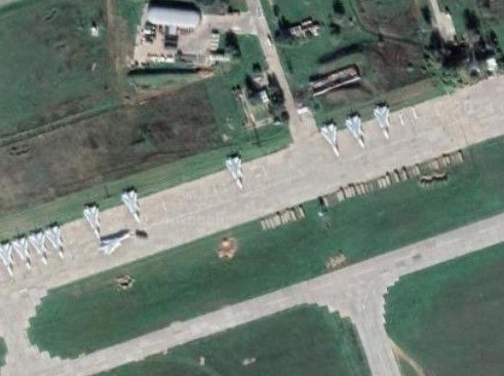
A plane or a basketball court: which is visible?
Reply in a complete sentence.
It is a plane that can be seen here.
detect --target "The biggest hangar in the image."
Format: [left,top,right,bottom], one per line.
[147,2,202,34]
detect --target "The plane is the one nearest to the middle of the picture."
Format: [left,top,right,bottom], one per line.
[227,156,242,188]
